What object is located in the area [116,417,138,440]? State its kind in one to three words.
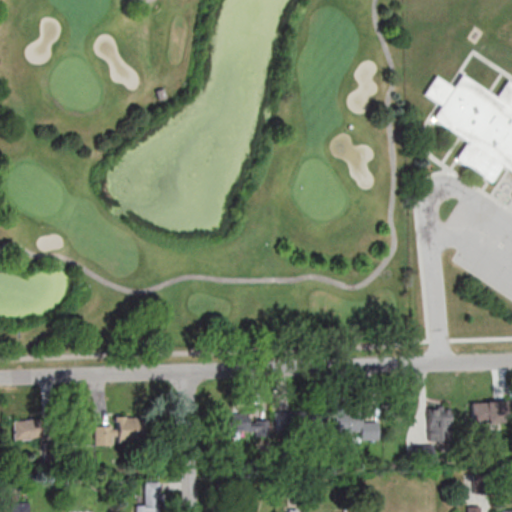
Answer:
house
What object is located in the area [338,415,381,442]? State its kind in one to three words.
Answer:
house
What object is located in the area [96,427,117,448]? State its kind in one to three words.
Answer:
building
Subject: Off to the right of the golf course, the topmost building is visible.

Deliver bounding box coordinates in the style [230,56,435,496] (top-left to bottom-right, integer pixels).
[424,72,512,186]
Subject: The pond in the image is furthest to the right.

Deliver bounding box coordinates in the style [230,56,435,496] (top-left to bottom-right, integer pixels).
[108,0,285,230]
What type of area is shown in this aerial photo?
golf course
